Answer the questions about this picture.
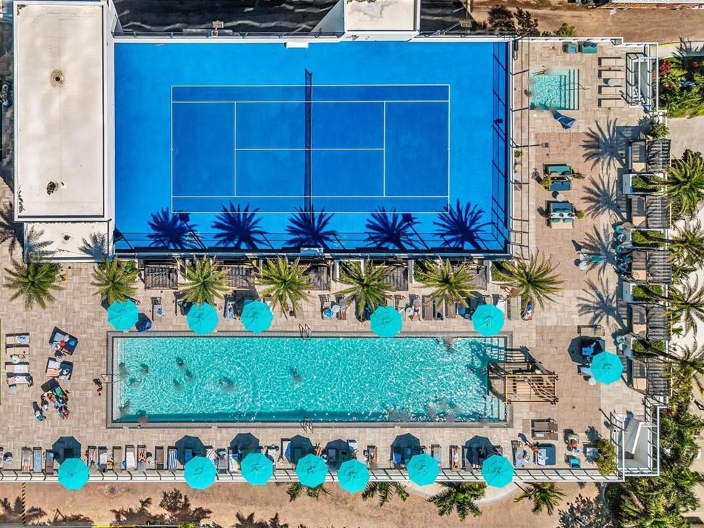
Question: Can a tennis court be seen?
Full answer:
Yes, the picture does show a tennis court.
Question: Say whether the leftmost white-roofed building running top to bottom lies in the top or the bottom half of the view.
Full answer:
It is in the top half that the leftmost white-roofed building running top to bottom appears.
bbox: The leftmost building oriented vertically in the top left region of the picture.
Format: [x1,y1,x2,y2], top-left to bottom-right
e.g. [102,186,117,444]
[14,0,115,220]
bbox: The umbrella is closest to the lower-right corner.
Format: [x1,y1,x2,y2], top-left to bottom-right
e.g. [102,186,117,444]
[587,354,623,385]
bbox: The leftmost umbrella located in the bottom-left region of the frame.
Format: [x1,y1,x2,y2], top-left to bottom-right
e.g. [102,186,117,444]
[55,458,87,489]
